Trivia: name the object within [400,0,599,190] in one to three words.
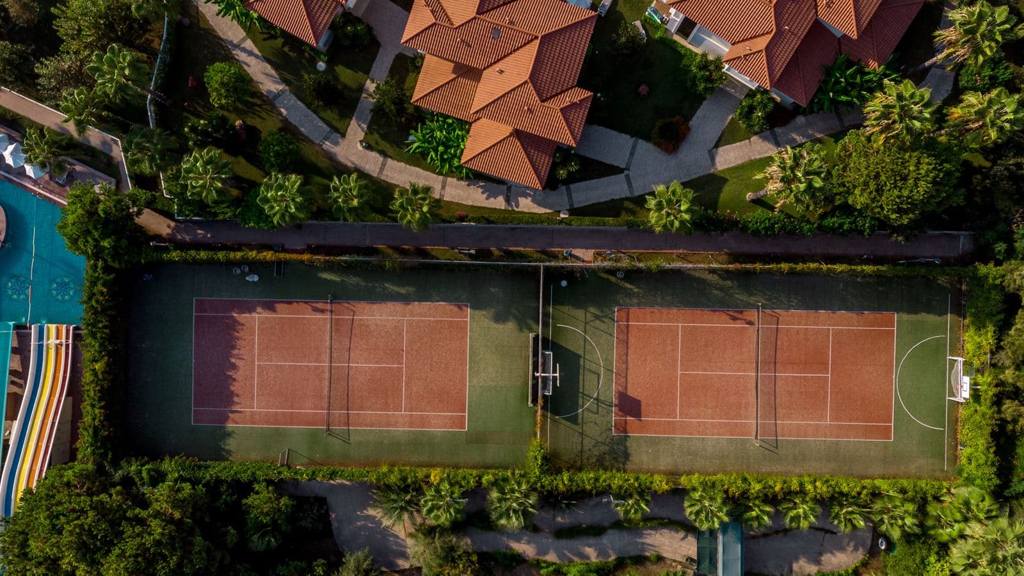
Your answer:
house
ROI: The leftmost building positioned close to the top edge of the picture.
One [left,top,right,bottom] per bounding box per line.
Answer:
[245,0,367,60]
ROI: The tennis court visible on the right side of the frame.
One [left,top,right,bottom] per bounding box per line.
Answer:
[541,269,962,480]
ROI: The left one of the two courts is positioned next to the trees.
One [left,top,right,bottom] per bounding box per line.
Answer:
[139,263,540,471]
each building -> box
[653,0,928,107]
[245,0,367,60]
[400,0,599,190]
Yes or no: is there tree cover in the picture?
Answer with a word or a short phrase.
Yes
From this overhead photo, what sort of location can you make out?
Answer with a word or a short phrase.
sports ground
